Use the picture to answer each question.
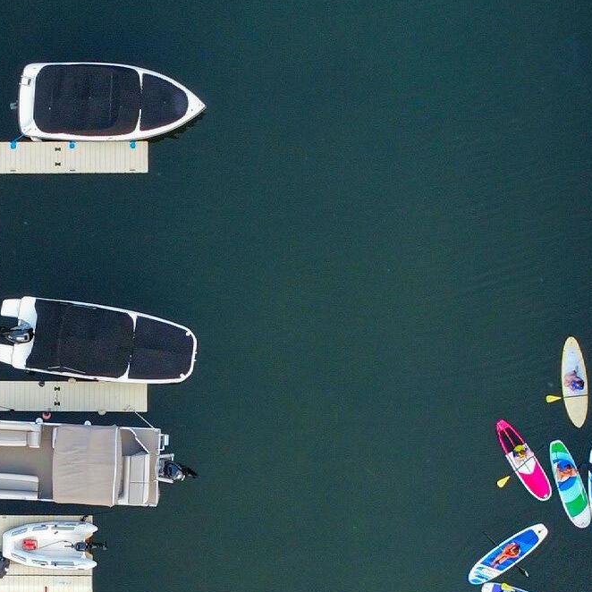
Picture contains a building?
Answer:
No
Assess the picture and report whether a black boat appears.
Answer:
Yes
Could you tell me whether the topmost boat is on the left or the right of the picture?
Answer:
left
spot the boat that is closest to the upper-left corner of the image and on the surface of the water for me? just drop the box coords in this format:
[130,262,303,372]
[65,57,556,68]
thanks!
[9,62,205,143]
